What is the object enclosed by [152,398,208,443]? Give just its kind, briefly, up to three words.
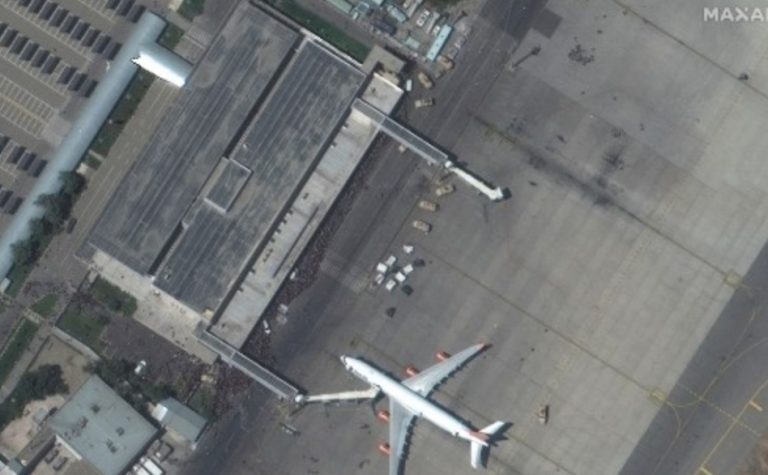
shed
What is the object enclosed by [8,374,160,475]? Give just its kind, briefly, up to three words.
building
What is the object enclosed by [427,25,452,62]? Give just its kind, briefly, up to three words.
bus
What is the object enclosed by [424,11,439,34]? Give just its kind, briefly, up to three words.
vehicle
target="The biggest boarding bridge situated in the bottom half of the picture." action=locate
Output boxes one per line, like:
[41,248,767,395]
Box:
[196,326,294,401]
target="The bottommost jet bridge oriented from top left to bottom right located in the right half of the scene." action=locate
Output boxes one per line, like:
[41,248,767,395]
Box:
[443,160,503,201]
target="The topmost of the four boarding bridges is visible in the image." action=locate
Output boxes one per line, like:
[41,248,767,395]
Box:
[353,101,446,169]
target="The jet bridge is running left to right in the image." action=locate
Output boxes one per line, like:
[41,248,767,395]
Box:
[294,386,382,407]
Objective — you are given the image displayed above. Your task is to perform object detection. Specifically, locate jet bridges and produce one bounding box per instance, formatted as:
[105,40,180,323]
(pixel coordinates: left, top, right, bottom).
[294,386,382,407]
[353,101,446,169]
[443,160,503,201]
[196,326,294,401]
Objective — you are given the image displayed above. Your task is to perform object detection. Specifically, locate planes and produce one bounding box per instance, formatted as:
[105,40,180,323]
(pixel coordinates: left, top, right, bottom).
[340,345,504,475]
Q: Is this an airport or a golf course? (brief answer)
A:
airport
